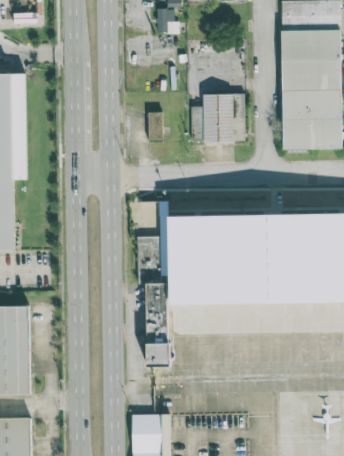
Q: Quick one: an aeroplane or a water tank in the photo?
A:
aeroplane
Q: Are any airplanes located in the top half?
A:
No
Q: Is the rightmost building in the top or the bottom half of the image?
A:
top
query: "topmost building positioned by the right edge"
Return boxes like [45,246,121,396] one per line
[280,0,344,150]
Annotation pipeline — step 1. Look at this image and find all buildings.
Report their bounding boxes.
[190,94,246,143]
[14,0,42,24]
[0,74,27,253]
[144,283,175,367]
[159,201,344,304]
[280,0,344,150]
[148,112,164,141]
[138,236,158,282]
[156,9,180,35]
[129,202,156,228]
[131,414,171,456]
[0,418,32,456]
[0,306,32,396]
